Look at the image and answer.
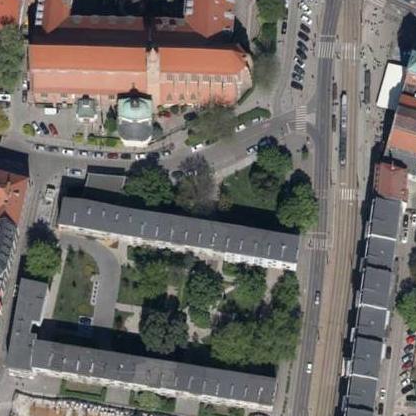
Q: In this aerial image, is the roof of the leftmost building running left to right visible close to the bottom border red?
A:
No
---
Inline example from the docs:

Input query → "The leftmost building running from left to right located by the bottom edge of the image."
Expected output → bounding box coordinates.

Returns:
[31,338,277,413]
